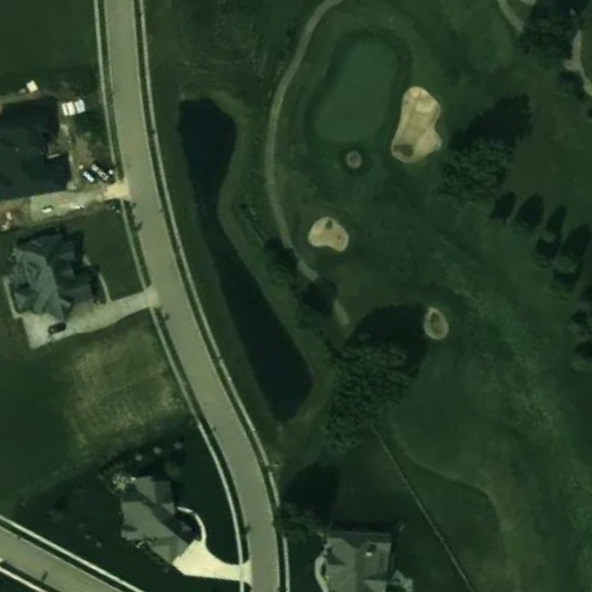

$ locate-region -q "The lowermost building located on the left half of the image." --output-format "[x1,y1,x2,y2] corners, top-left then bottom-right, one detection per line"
[117,476,198,566]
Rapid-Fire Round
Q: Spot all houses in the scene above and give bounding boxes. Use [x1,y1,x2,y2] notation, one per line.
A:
[117,476,198,566]
[325,533,395,592]
[0,98,70,201]
[7,231,94,323]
